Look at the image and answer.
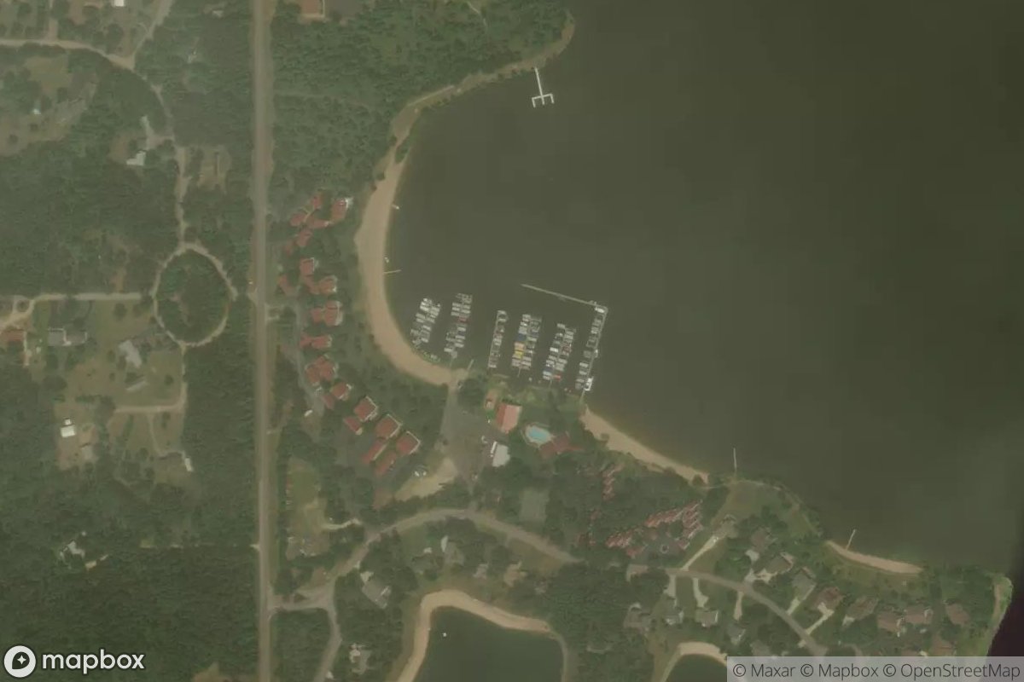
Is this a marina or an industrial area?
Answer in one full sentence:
This image shows a marina.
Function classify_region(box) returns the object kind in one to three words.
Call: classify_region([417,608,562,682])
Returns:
pond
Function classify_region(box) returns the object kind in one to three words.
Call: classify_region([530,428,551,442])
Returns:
swimming pool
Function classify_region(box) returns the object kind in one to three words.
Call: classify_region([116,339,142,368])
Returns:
house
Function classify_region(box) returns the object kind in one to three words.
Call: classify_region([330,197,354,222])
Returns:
building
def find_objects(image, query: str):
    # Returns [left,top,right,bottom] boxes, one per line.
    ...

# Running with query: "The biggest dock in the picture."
[522,283,609,402]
